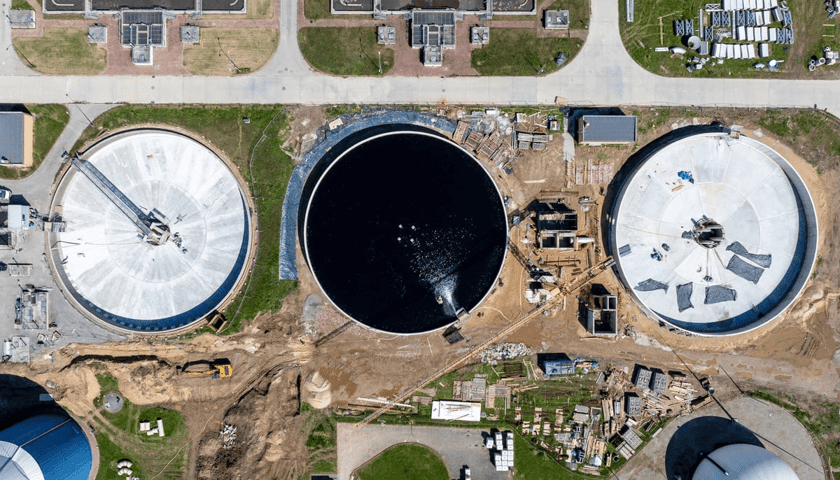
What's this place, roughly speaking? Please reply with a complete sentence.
It's an industrial area.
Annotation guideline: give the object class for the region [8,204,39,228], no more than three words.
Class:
building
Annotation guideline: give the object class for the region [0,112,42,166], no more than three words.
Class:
building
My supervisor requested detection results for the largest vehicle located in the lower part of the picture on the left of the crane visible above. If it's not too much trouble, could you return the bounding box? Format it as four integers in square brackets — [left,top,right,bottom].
[177,365,231,382]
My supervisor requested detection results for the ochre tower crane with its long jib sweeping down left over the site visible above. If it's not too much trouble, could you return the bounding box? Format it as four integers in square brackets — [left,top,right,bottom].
[354,256,614,431]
